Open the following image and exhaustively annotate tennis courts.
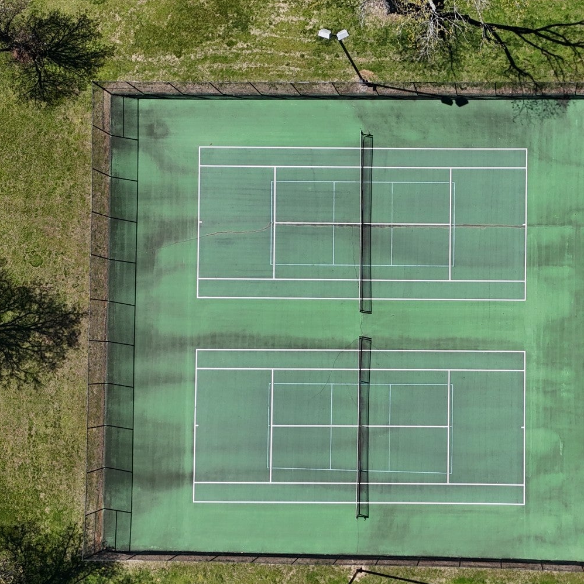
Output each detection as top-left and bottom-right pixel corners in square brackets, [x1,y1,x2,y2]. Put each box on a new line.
[197,146,528,301]
[193,344,525,504]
